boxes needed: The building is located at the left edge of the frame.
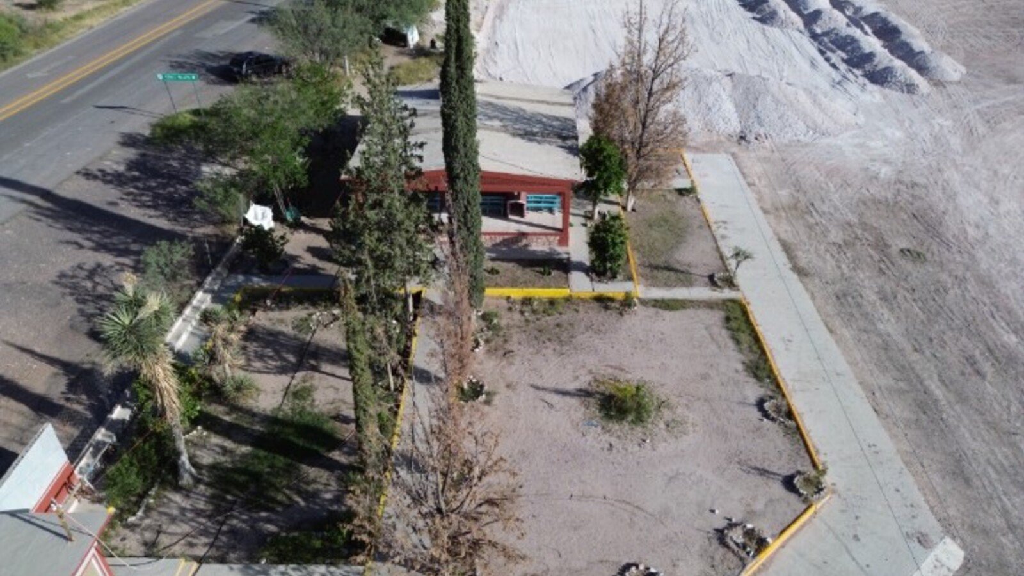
[0,424,118,576]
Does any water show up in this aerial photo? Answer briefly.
No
